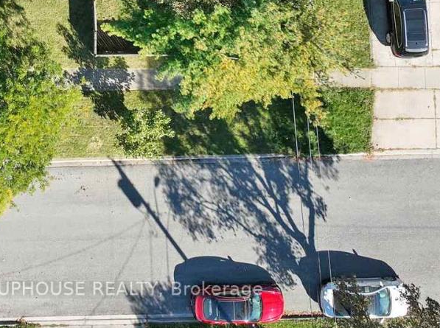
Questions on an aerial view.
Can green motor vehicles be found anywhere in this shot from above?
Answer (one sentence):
No, no green motor vehicle is visible in the view.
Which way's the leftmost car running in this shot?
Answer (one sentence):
The leftmost car runs horizontally in the image.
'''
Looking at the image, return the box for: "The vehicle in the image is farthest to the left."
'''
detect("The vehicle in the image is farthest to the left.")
[191,279,281,325]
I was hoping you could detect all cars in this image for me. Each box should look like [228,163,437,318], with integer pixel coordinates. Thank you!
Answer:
[386,0,432,58]
[191,279,281,325]
[316,274,408,320]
